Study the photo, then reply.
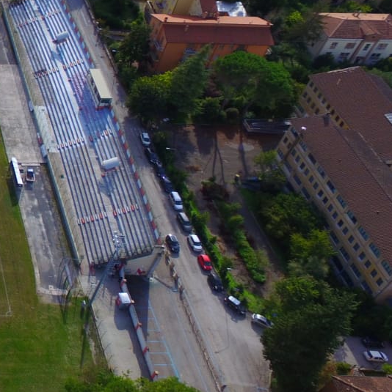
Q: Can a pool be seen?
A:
No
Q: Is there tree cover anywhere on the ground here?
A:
Yes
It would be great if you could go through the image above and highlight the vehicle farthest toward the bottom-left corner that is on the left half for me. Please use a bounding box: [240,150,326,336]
[108,291,138,309]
